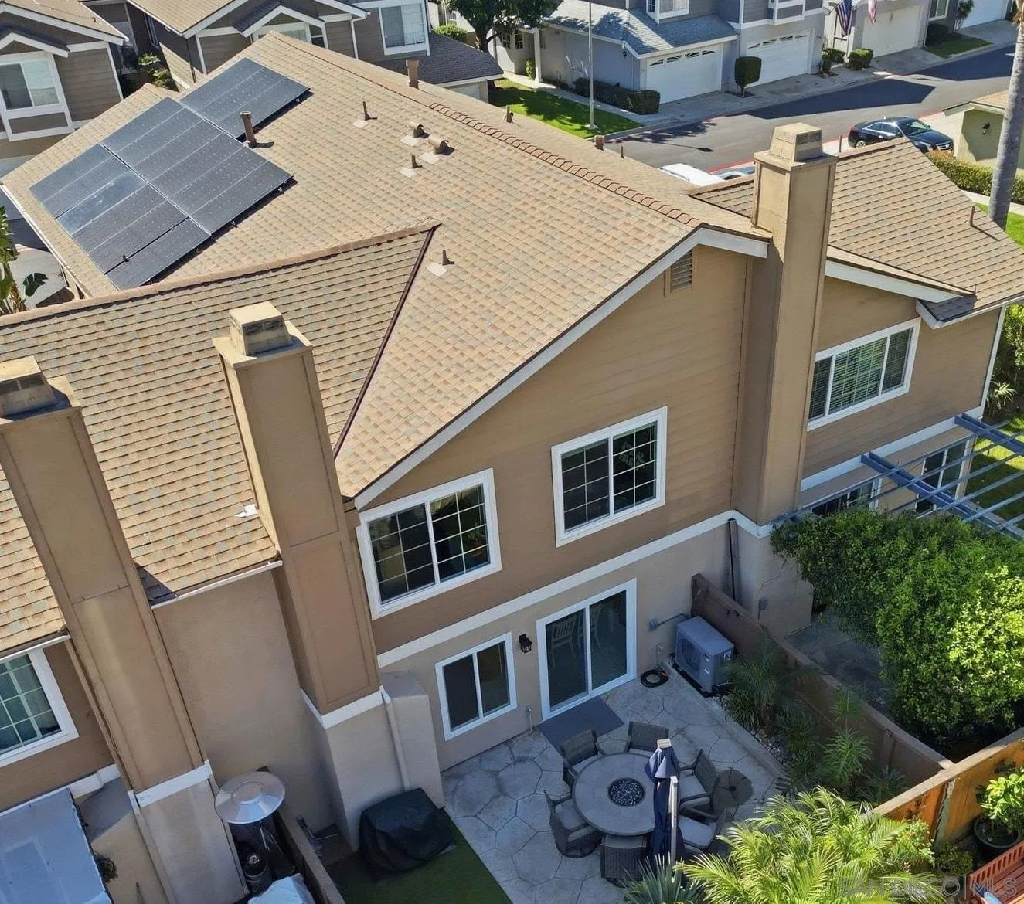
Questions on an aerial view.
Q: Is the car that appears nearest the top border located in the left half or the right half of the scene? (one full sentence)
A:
The car that appears nearest the top border sits on the right side.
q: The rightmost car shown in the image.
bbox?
[838,105,946,152]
